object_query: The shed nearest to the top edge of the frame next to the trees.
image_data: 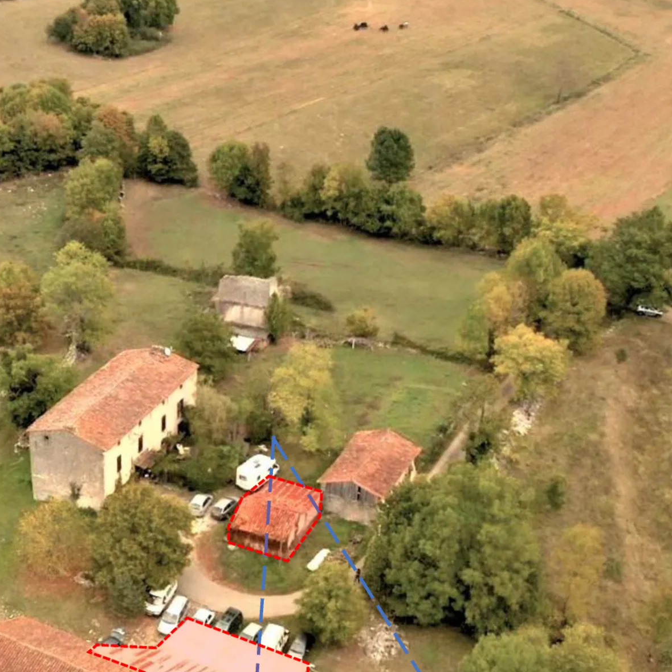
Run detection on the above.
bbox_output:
[219,275,277,337]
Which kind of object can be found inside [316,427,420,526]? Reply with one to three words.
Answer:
shed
